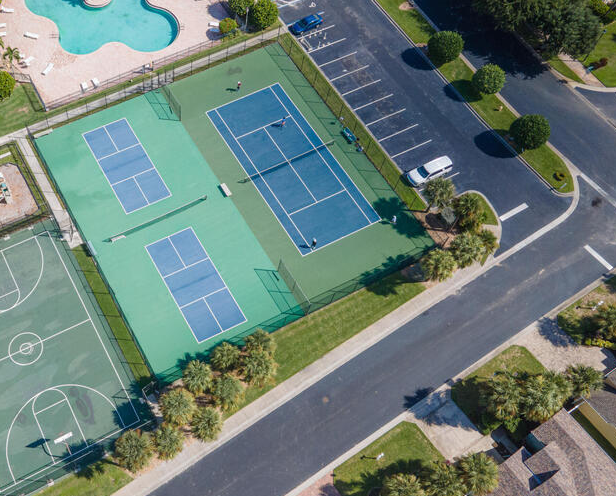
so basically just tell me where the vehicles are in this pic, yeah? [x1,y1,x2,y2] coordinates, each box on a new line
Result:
[289,13,324,33]
[410,154,454,184]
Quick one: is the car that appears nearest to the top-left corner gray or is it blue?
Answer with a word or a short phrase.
blue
